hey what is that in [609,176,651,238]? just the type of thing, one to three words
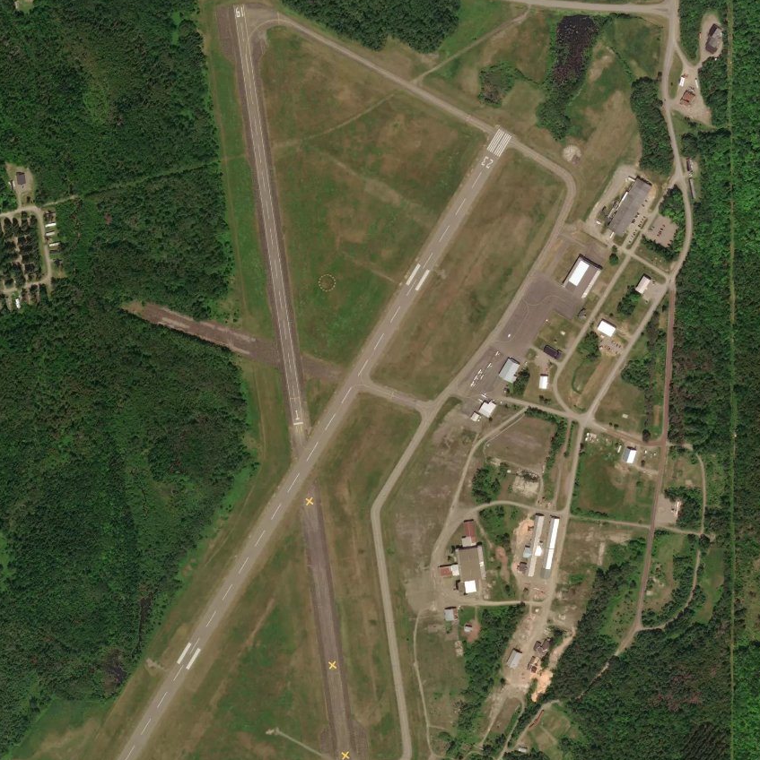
building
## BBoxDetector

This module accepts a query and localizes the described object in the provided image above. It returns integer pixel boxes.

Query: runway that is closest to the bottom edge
[303,478,368,760]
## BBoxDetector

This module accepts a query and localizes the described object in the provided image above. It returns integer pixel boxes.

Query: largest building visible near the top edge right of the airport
[704,27,723,56]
